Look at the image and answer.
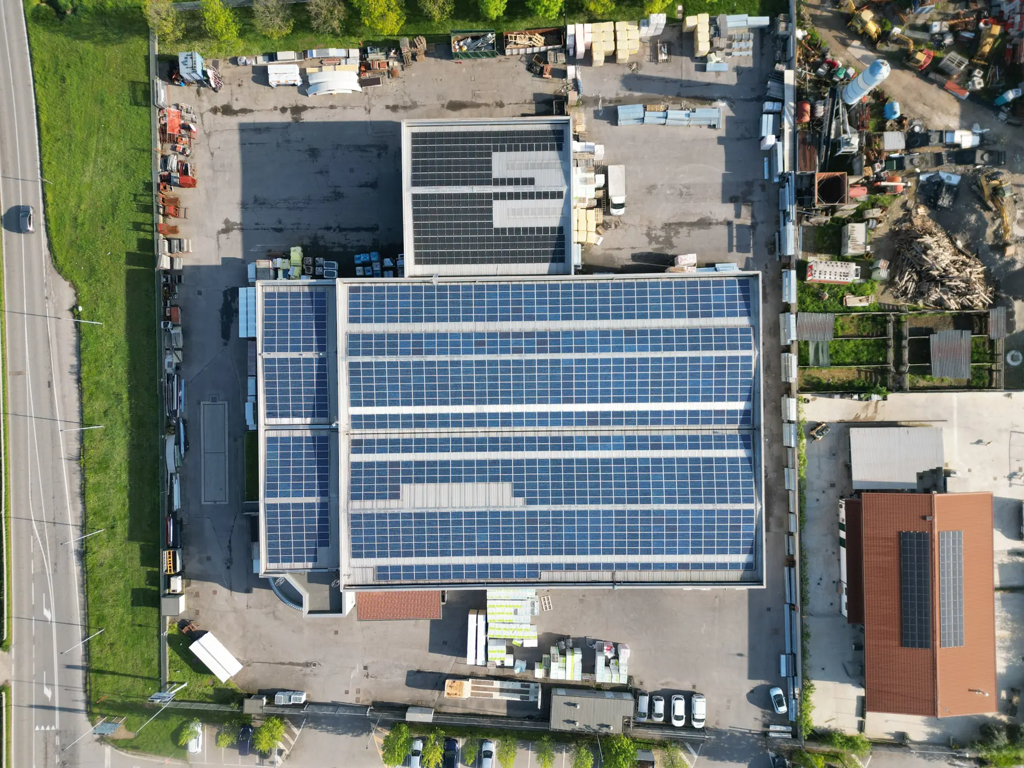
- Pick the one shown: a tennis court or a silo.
silo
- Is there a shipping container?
Yes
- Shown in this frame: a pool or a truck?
truck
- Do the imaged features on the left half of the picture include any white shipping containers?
Yes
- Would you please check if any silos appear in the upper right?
Yes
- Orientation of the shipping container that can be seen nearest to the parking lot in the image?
on a diagonal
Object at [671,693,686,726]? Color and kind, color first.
white car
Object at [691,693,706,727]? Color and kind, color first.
white car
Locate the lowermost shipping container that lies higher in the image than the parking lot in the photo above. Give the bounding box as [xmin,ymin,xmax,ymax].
[189,633,240,684]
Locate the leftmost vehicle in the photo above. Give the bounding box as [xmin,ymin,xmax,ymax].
[17,204,35,236]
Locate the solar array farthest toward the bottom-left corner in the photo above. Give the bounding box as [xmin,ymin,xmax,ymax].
[265,504,328,565]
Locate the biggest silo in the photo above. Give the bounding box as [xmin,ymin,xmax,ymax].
[837,59,892,114]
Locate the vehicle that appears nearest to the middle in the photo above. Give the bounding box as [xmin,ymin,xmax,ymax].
[607,161,626,217]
